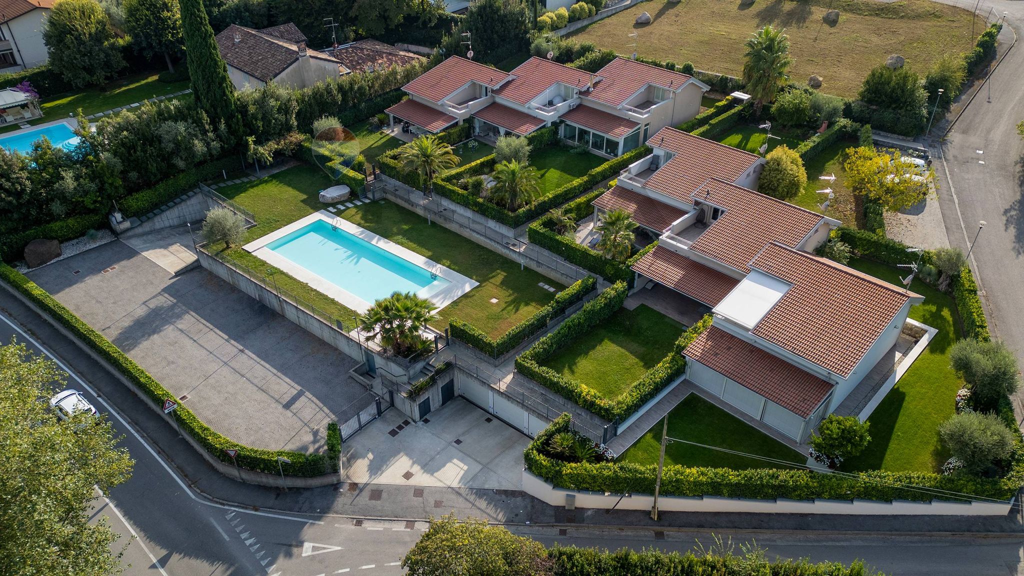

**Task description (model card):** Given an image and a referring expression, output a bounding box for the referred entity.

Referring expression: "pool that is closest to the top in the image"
[0,117,96,161]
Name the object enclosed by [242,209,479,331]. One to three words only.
swimming pool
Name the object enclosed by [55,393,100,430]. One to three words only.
car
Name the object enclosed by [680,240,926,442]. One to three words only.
house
